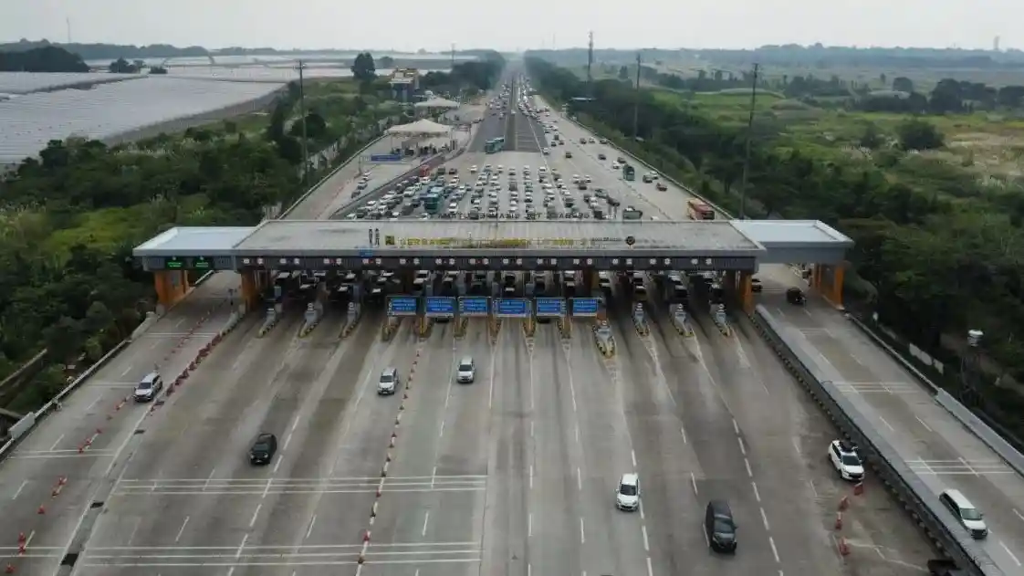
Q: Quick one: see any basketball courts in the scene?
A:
No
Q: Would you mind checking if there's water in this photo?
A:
No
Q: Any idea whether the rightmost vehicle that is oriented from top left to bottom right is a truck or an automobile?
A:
automobile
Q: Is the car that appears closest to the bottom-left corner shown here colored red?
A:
No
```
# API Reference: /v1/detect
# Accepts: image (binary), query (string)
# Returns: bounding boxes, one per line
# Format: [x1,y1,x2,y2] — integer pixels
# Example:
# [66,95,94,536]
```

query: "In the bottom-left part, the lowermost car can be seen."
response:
[248,427,279,463]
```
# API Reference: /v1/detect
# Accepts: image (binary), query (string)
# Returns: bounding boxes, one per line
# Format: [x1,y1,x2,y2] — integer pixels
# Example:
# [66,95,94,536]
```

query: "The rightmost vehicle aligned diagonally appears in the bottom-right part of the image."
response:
[935,481,998,533]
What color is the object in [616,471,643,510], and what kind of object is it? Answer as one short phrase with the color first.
white car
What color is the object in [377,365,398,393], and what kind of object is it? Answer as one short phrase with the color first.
gray car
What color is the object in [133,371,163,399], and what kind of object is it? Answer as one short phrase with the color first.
gray car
